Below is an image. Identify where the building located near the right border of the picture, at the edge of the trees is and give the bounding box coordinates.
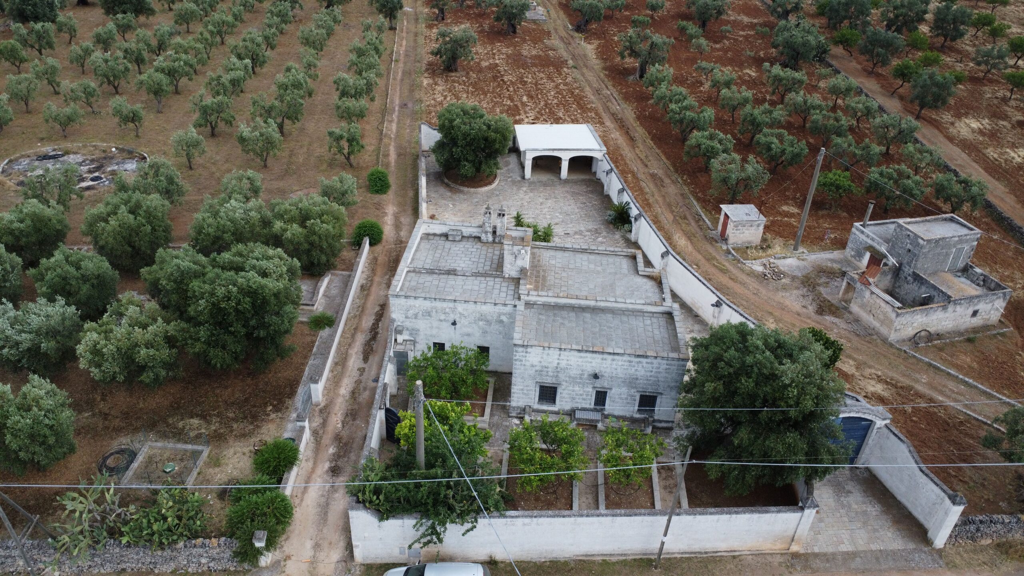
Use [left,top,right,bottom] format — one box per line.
[834,204,1015,344]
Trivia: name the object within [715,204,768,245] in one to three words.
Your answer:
shed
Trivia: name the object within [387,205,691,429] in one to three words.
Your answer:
house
